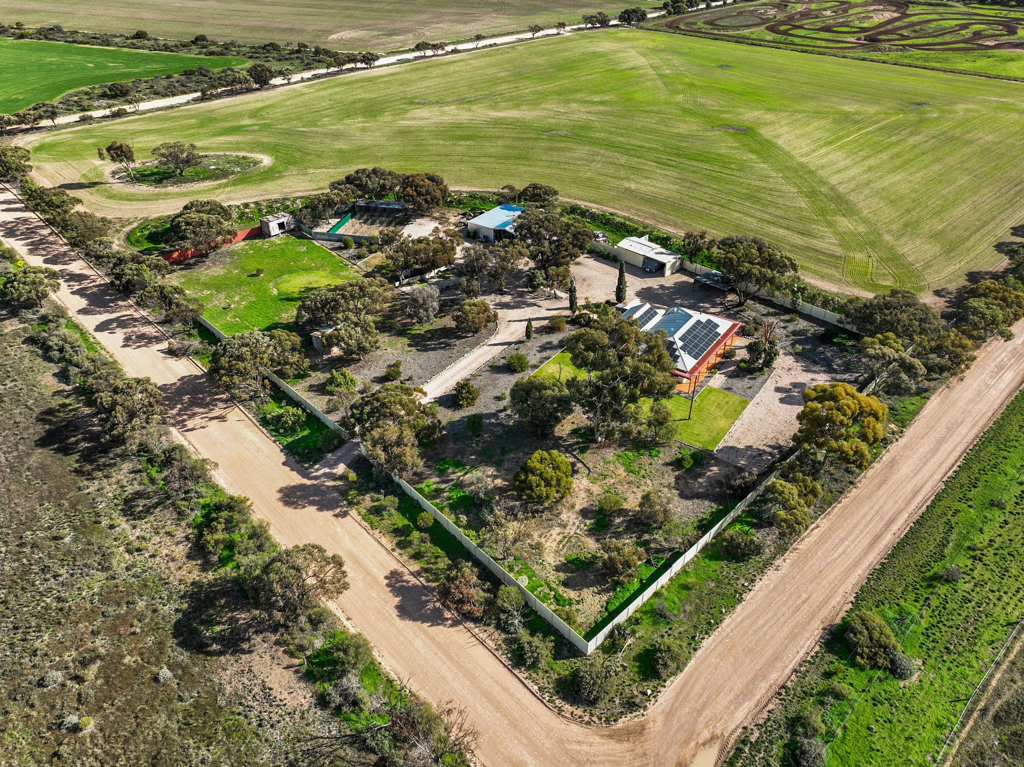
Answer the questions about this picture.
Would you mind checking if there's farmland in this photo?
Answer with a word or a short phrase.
Yes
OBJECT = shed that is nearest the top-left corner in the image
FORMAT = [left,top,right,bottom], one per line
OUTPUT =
[257,212,293,235]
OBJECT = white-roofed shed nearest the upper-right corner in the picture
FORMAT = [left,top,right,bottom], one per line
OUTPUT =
[616,238,680,278]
